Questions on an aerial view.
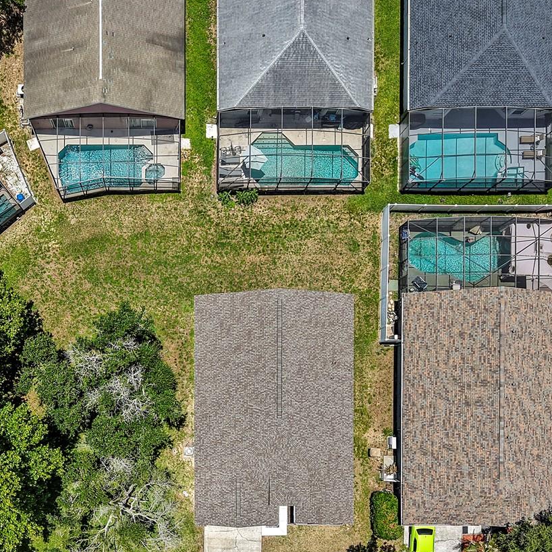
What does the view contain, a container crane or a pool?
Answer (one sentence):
It is a pool that can be seen here.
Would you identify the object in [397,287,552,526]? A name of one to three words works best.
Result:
house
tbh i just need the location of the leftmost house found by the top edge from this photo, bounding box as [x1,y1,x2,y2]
[24,0,185,129]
